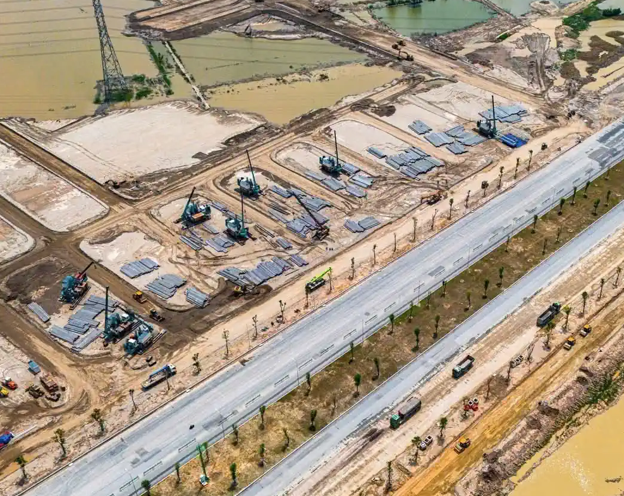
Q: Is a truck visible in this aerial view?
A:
Yes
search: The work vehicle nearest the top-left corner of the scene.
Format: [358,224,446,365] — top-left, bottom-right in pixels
[103,171,121,188]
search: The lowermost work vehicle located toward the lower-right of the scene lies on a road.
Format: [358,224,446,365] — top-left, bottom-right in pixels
[453,434,471,453]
